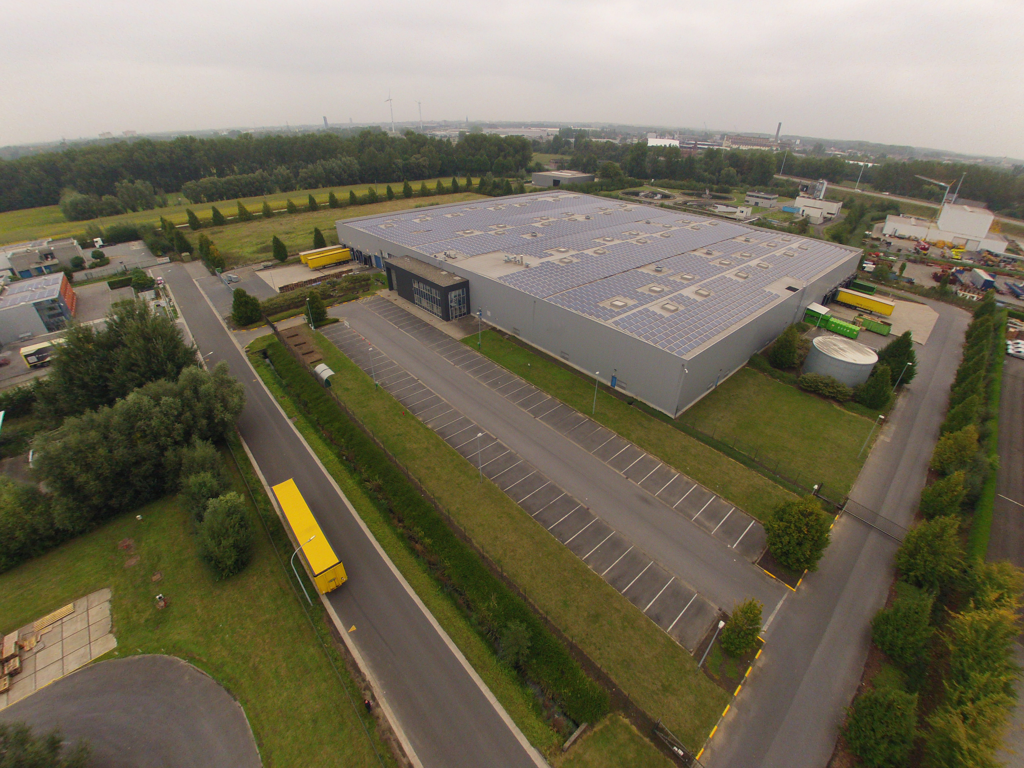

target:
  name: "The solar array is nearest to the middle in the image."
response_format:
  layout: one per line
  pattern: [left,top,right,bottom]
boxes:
[348,193,852,358]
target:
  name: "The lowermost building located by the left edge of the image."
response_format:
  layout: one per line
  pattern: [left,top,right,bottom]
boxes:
[0,271,75,346]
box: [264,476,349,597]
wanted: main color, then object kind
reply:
yellow trailer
